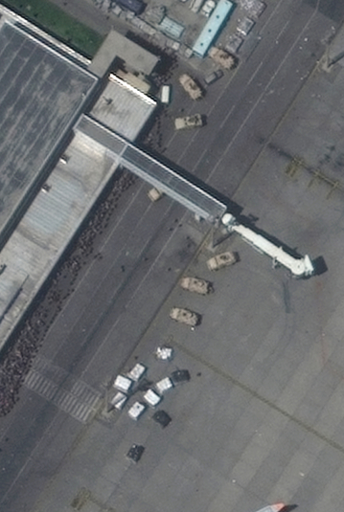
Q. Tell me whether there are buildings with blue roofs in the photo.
No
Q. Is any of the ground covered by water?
No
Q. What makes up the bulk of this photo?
paved ground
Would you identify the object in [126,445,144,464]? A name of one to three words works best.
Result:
work vehicle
